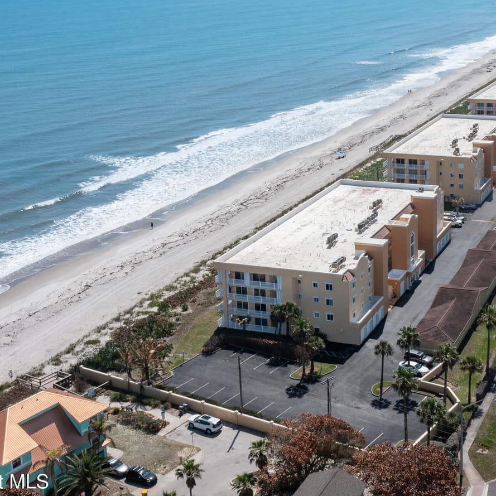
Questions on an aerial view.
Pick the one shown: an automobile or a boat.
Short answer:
automobile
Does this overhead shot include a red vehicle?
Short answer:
No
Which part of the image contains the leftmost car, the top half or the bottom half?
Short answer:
bottom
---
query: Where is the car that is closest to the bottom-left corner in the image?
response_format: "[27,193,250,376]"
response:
[105,447,128,475]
